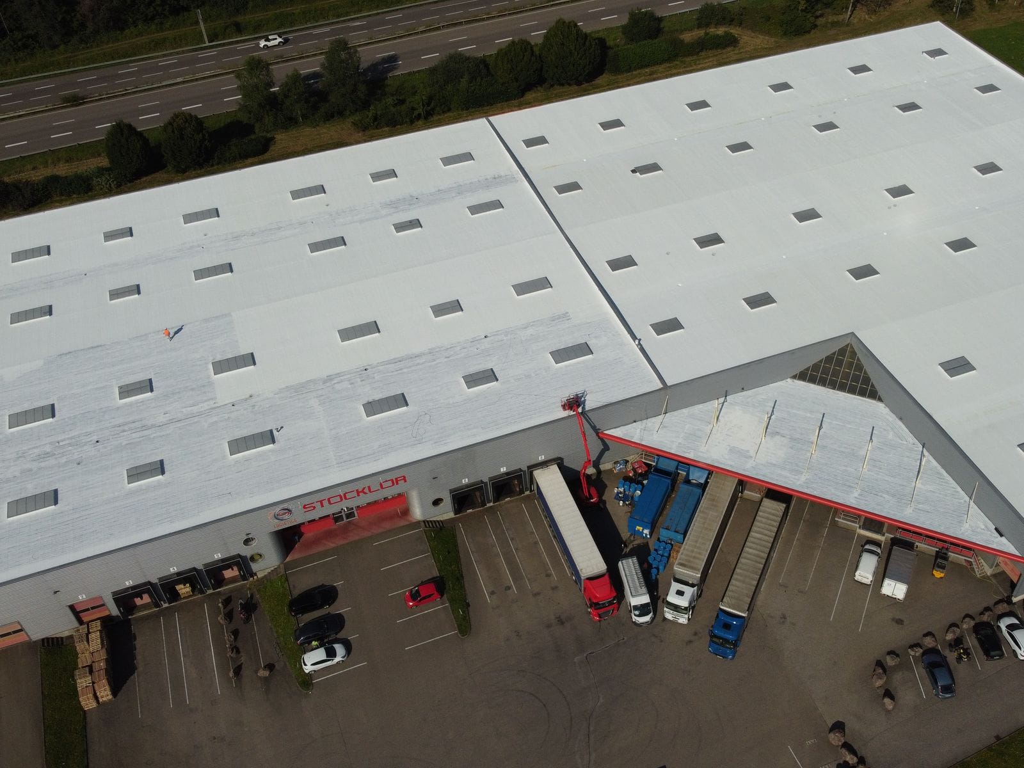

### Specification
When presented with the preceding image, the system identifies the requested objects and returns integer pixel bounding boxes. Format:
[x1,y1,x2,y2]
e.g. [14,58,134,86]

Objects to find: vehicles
[615,555,656,623]
[853,545,884,589]
[998,608,1024,655]
[883,543,922,604]
[298,642,348,675]
[259,33,283,47]
[290,585,341,617]
[951,639,973,661]
[922,646,961,698]
[401,580,444,610]
[662,468,736,619]
[969,618,1006,664]
[933,545,953,576]
[706,497,787,659]
[296,612,347,644]
[534,464,620,621]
